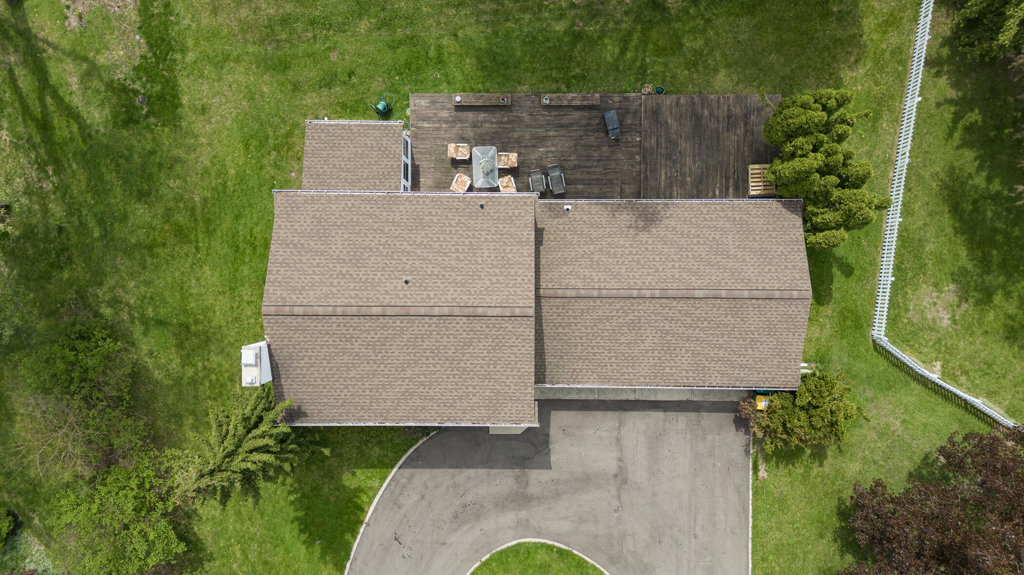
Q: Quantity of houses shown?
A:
1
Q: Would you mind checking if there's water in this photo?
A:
No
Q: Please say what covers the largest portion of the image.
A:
grass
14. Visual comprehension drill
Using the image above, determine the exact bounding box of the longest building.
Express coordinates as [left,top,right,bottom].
[242,119,813,434]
